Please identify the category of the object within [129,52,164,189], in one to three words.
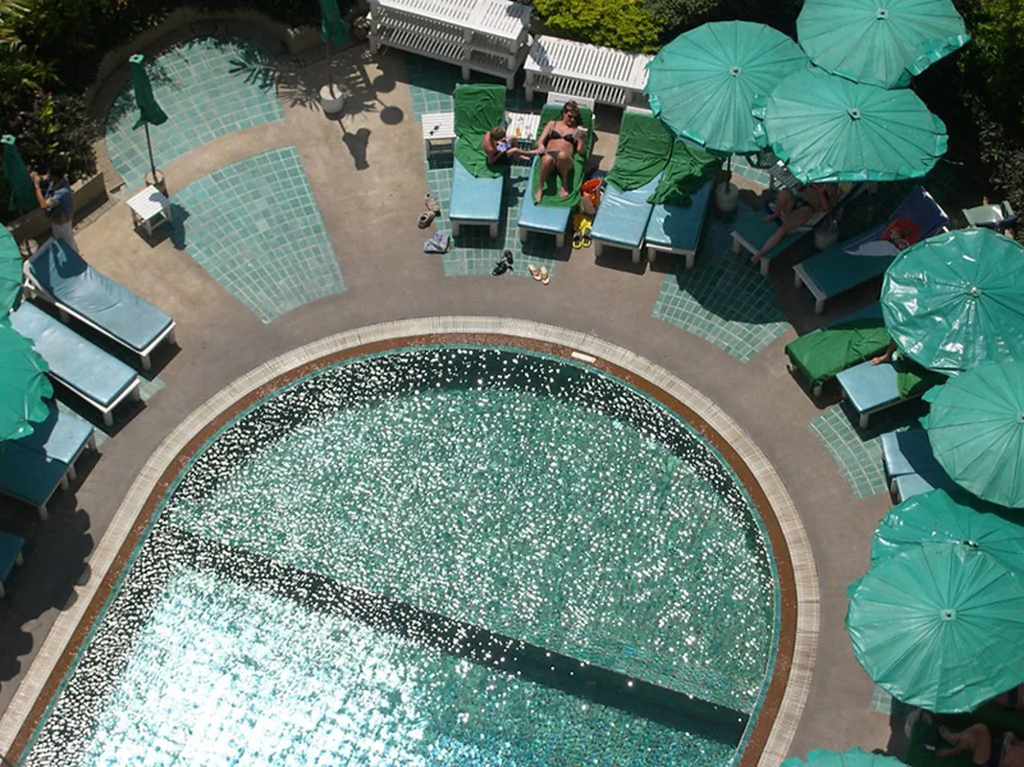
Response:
umbrella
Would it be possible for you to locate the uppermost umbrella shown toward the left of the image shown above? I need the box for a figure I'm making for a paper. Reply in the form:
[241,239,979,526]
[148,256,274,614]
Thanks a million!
[315,0,346,110]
